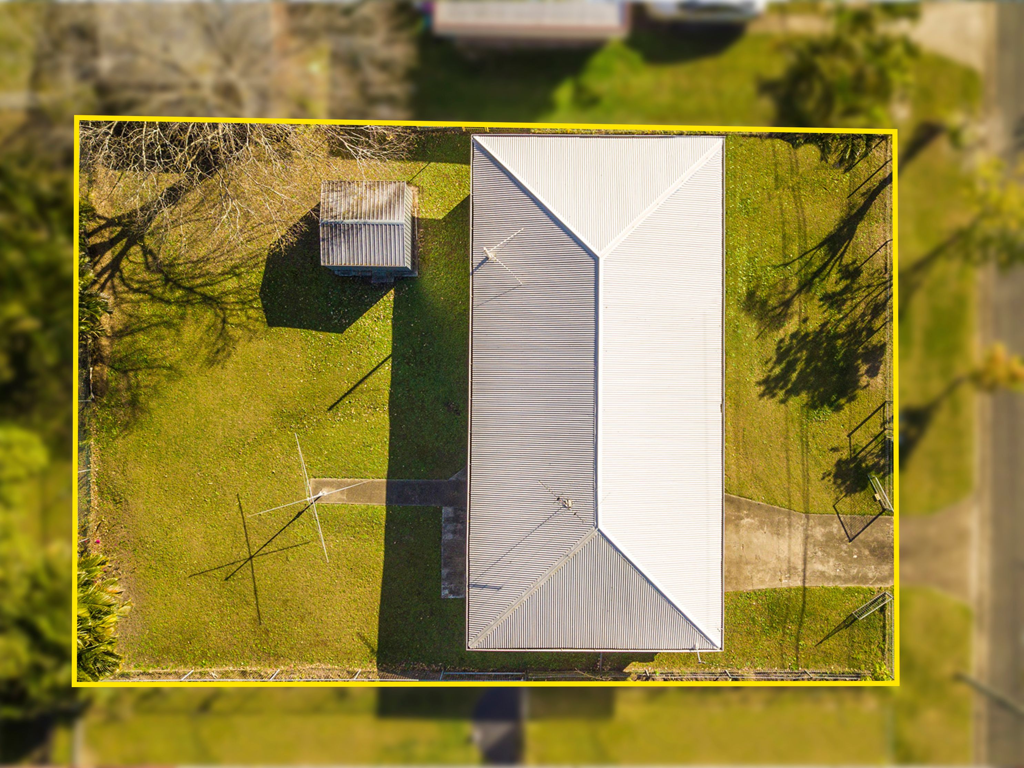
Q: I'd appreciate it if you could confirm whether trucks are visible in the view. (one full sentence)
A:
No, this view has no truck in it.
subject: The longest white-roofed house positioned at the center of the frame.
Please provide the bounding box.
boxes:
[467,134,727,664]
